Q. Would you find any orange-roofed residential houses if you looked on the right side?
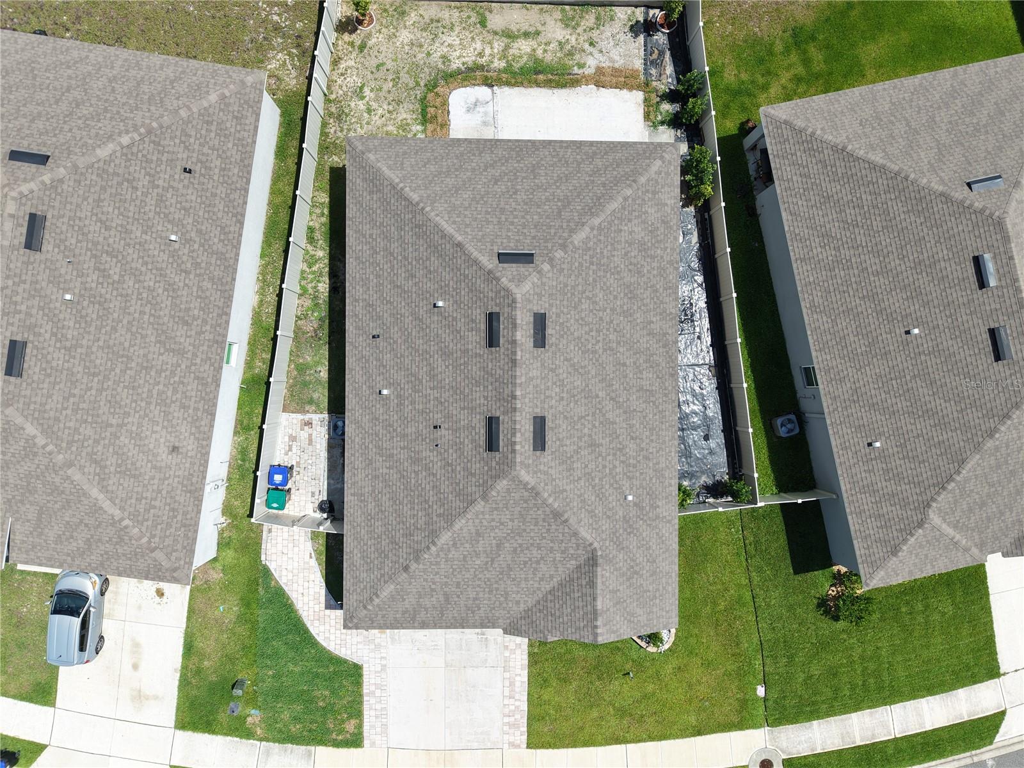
No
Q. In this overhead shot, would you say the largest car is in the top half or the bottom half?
bottom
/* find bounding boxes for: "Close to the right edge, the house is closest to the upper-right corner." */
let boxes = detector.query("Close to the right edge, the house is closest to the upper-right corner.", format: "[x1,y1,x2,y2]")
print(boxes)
[744,54,1024,590]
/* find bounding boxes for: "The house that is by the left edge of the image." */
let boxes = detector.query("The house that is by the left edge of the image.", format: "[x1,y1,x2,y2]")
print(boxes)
[0,35,283,587]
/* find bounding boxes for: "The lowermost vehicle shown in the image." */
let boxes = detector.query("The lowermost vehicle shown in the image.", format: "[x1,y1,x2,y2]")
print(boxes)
[44,569,110,664]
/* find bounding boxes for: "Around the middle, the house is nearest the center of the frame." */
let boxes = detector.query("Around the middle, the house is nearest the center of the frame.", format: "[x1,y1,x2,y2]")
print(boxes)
[341,136,682,646]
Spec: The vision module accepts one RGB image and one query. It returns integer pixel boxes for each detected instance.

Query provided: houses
[0,35,283,587]
[744,54,1024,590]
[341,136,682,646]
